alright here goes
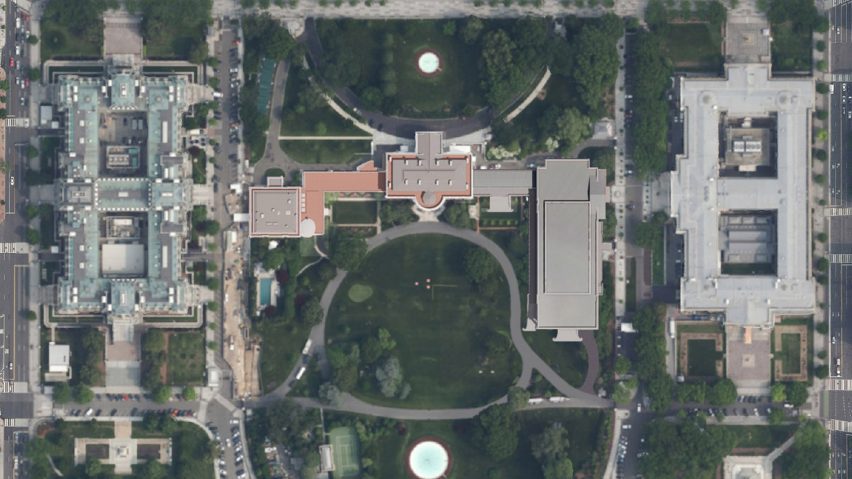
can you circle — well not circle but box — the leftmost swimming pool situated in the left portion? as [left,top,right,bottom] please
[255,264,277,305]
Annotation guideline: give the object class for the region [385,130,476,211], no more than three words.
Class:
house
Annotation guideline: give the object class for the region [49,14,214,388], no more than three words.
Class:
building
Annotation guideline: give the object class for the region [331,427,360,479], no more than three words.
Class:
tennis court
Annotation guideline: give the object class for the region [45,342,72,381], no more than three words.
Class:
building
